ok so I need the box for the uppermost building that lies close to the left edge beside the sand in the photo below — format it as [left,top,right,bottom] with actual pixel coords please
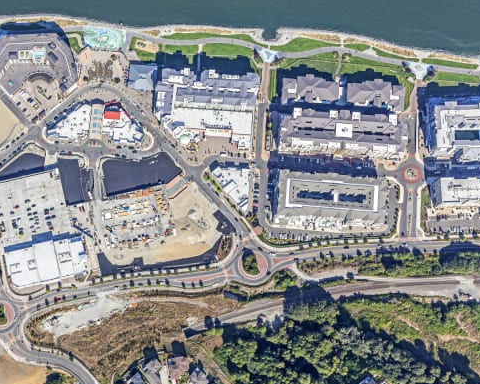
[0,33,79,96]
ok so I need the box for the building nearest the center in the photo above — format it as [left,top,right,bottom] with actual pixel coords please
[212,166,250,210]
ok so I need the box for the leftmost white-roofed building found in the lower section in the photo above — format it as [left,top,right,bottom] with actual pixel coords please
[6,236,88,287]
